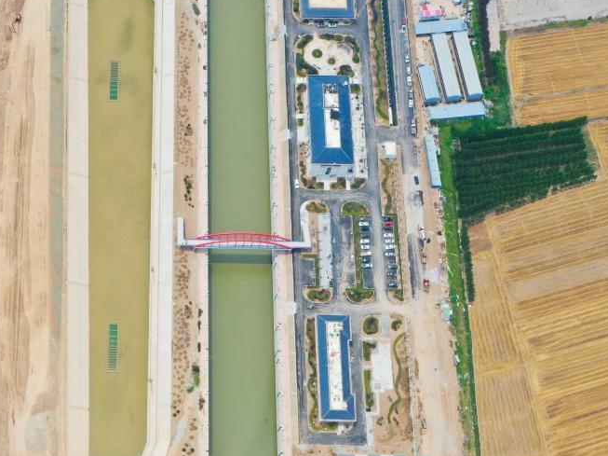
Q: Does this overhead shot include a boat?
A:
No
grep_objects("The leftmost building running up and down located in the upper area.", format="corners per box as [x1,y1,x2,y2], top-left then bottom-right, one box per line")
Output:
[308,75,354,167]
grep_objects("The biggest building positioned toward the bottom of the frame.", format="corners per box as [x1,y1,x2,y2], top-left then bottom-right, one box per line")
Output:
[315,314,355,424]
